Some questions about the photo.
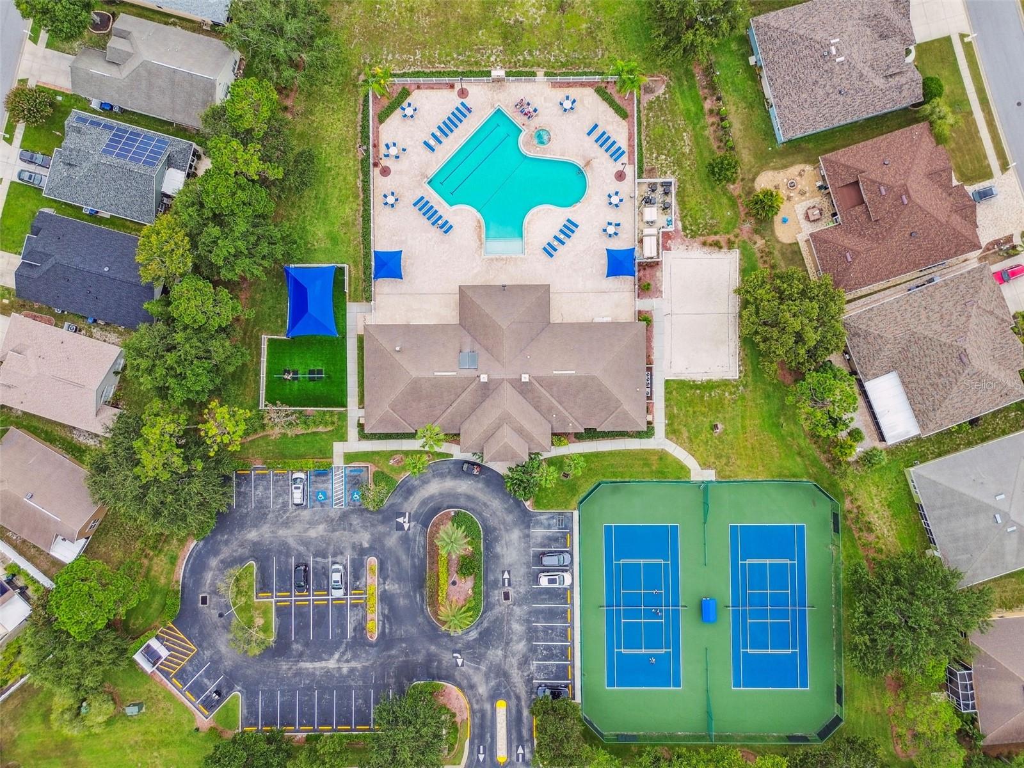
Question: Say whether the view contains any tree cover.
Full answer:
Yes, there is tree cover in the image.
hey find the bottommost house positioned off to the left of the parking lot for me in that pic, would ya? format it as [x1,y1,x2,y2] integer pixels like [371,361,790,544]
[0,564,30,635]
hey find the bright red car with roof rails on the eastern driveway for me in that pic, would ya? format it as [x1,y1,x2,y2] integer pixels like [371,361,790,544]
[994,264,1024,284]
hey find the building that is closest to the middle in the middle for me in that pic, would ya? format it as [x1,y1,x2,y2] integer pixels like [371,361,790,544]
[364,284,647,463]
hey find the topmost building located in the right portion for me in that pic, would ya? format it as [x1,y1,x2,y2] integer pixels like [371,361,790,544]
[747,0,924,144]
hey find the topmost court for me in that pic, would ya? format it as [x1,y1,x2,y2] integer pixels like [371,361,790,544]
[663,250,739,379]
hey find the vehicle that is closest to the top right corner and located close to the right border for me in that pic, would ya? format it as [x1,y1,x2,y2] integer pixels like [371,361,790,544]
[972,182,1005,203]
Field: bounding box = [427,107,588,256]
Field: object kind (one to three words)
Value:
swimming pool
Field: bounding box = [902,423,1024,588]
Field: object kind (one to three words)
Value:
house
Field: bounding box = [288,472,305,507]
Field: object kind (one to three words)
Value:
car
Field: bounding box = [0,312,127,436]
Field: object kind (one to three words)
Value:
house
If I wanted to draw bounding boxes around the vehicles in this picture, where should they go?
[11,168,47,188]
[537,685,570,701]
[538,573,571,590]
[205,686,225,708]
[972,182,1005,203]
[291,563,307,594]
[328,564,344,597]
[994,264,1024,284]
[12,146,50,168]
[540,554,570,570]
[288,472,305,507]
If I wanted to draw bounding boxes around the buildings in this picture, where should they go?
[959,611,1024,746]
[902,423,1024,588]
[0,312,127,436]
[134,0,238,31]
[15,210,174,329]
[0,564,30,635]
[838,262,1024,445]
[70,13,240,131]
[0,426,107,562]
[42,109,195,225]
[747,0,924,144]
[806,123,982,294]
[364,284,647,463]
